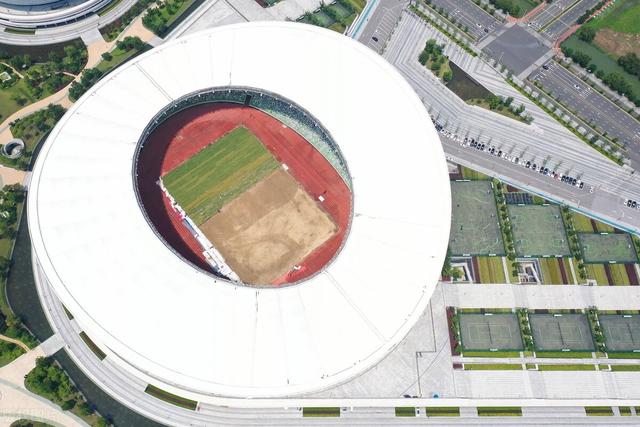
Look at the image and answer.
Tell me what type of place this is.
sports ground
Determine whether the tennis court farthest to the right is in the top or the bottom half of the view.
bottom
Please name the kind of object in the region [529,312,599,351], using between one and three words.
tennis court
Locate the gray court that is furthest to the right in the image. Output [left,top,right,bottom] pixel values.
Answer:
[599,313,640,352]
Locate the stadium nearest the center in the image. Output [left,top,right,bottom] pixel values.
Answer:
[28,20,452,400]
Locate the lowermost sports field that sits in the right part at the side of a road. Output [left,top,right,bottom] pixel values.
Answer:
[577,231,640,264]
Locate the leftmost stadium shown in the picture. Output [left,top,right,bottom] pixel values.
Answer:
[0,0,136,47]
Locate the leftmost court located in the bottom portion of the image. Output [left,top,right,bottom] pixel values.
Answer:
[458,311,526,351]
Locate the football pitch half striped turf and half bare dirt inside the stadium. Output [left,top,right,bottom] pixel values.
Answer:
[160,124,338,284]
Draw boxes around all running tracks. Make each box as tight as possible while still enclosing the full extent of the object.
[138,103,346,284]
